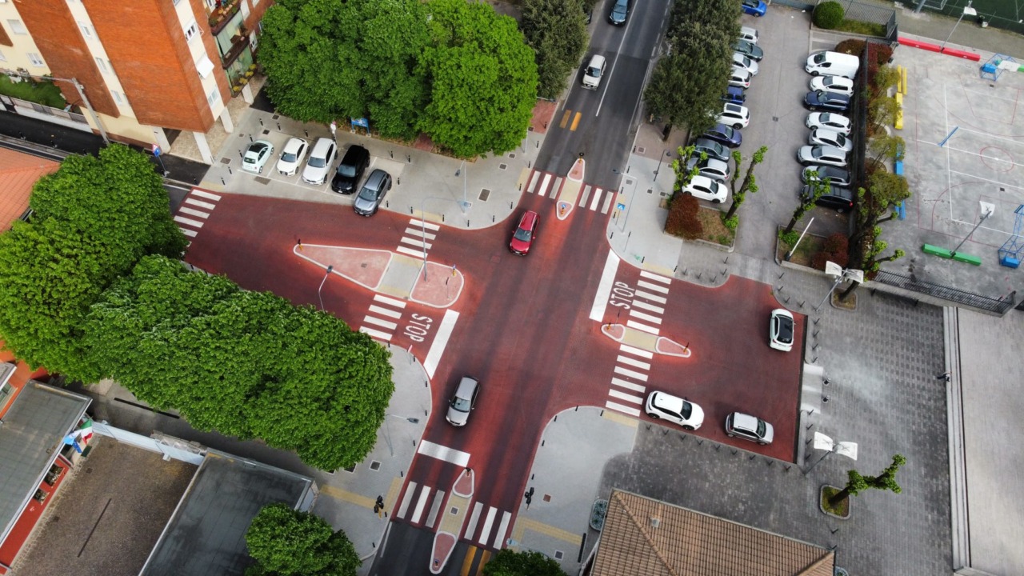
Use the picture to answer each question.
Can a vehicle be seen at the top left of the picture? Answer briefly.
Yes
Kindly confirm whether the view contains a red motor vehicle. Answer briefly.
Yes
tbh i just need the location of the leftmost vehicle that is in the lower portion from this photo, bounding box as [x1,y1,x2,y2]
[446,373,481,429]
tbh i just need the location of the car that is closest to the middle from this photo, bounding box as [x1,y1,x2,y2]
[510,209,541,257]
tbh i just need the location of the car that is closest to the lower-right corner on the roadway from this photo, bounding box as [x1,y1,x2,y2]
[721,412,776,449]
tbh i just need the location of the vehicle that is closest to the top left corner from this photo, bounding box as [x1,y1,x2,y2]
[242,138,276,173]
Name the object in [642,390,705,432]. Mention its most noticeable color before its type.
white car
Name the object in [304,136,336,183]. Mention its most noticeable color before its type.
white car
